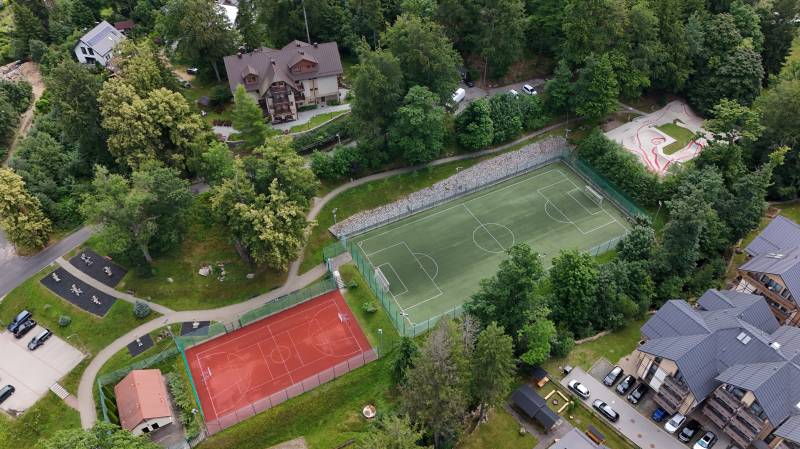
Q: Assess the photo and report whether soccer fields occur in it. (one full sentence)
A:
Yes, a soccer field can be made out from above.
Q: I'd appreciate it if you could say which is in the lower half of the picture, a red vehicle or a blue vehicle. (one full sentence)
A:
It is a blue vehicle that can be seen in the lower half of the picture.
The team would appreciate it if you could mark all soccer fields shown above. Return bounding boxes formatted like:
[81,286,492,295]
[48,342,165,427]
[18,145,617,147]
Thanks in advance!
[339,159,638,339]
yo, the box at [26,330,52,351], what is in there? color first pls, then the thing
gray car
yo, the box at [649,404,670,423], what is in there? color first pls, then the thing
blue car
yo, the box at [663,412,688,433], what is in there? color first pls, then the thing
white car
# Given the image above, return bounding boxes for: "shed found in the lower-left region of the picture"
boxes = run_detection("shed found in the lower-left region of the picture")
[112,366,175,436]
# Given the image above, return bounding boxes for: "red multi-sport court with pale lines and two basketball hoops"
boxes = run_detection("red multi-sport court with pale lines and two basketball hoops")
[185,288,378,434]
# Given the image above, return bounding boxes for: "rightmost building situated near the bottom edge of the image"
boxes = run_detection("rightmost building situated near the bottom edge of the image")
[637,288,800,449]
